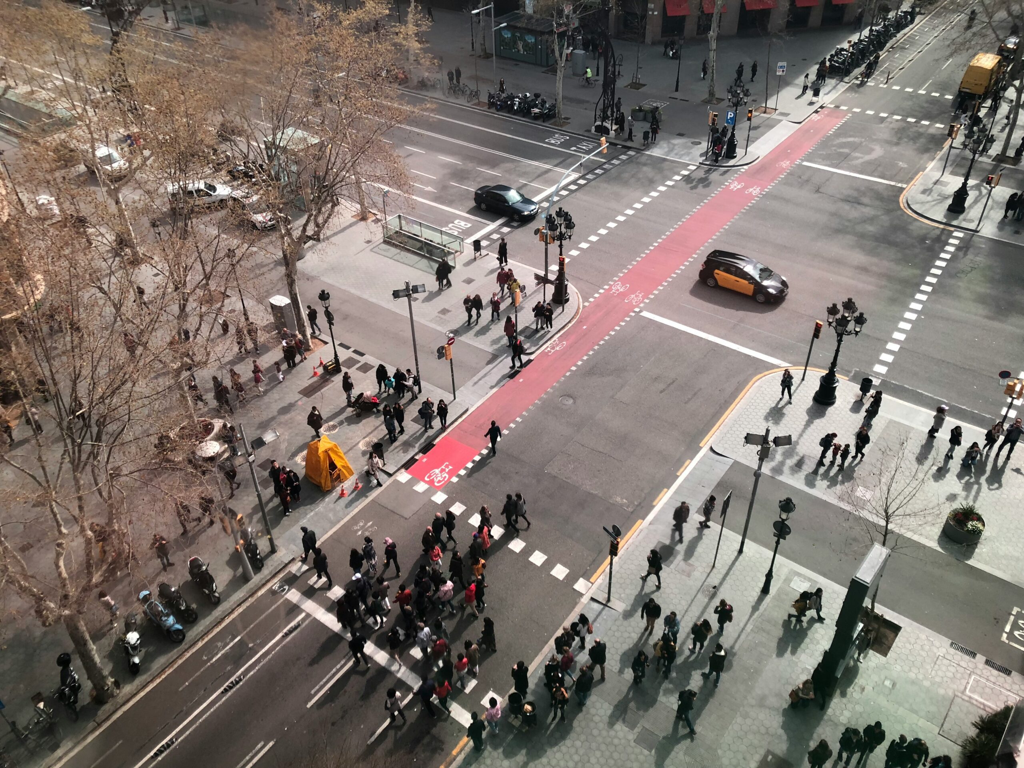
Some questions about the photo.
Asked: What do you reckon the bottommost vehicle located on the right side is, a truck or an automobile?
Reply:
automobile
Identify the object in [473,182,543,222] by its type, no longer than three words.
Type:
car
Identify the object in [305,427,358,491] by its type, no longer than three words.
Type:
tent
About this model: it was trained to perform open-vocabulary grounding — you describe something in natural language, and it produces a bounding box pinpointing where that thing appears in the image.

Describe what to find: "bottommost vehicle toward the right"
[700,244,795,302]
